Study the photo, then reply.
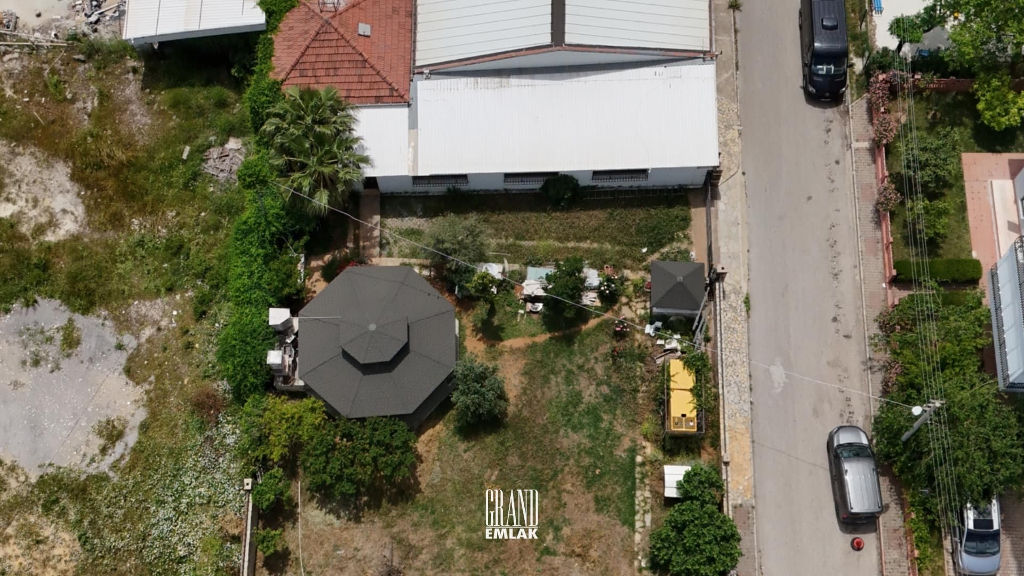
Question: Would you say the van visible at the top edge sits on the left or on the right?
right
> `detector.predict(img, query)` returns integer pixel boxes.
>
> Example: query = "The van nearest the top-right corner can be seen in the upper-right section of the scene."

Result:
[797,0,855,100]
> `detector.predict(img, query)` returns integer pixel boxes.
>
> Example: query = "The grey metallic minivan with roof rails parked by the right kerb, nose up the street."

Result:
[831,424,885,529]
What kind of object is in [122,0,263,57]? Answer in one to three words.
shed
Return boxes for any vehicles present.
[955,490,1006,576]
[797,0,855,100]
[831,424,885,529]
